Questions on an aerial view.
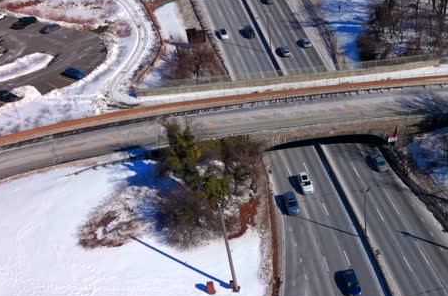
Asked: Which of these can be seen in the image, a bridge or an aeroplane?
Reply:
bridge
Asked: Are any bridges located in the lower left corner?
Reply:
No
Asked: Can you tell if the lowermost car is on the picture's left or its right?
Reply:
right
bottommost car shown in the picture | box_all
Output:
[339,268,362,296]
